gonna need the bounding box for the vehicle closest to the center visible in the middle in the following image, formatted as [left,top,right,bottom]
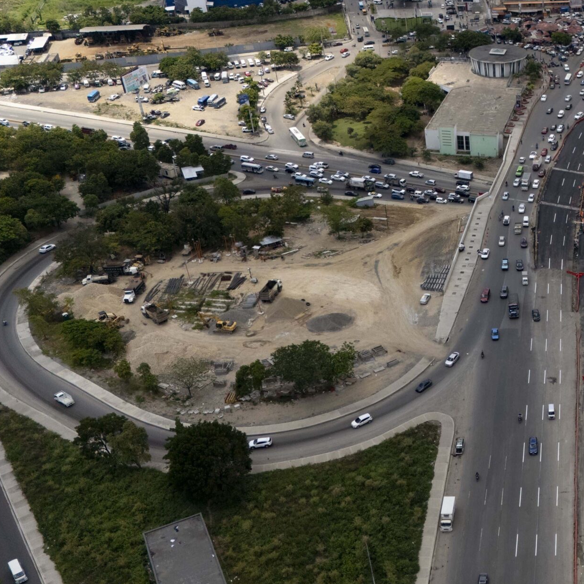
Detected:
[257,280,282,302]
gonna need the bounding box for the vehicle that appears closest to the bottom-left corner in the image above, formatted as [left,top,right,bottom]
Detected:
[7,554,27,584]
